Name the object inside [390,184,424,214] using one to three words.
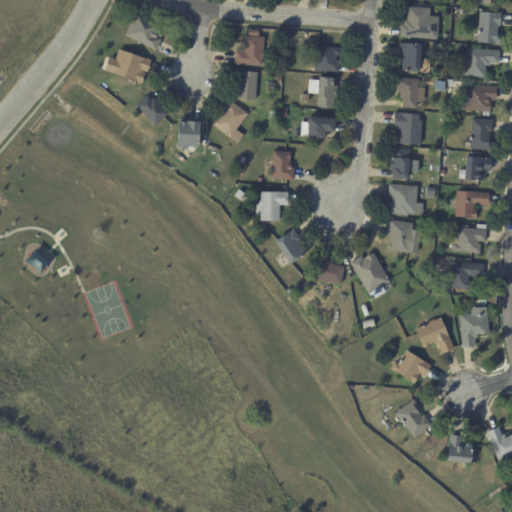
house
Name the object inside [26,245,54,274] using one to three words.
building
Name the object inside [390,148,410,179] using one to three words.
house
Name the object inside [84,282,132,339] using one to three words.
basketball court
